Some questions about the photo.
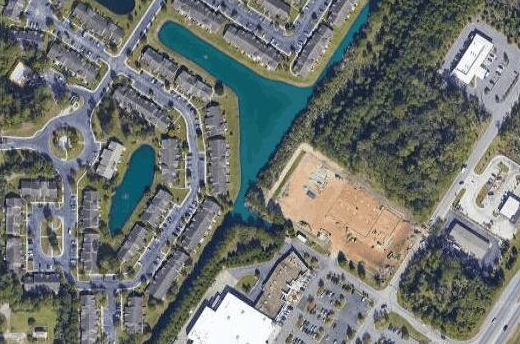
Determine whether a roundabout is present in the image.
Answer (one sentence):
Yes, the image includes a roundabout.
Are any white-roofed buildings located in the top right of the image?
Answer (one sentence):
Yes, there is a white-roofed building in the top right of the image.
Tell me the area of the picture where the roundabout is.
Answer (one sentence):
The roundabout appears toward the left of the photo.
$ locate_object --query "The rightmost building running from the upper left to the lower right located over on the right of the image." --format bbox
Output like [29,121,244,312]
[451,224,494,257]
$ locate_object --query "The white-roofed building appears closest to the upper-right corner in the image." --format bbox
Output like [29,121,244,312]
[455,32,495,84]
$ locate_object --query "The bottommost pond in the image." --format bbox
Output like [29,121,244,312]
[108,144,154,235]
